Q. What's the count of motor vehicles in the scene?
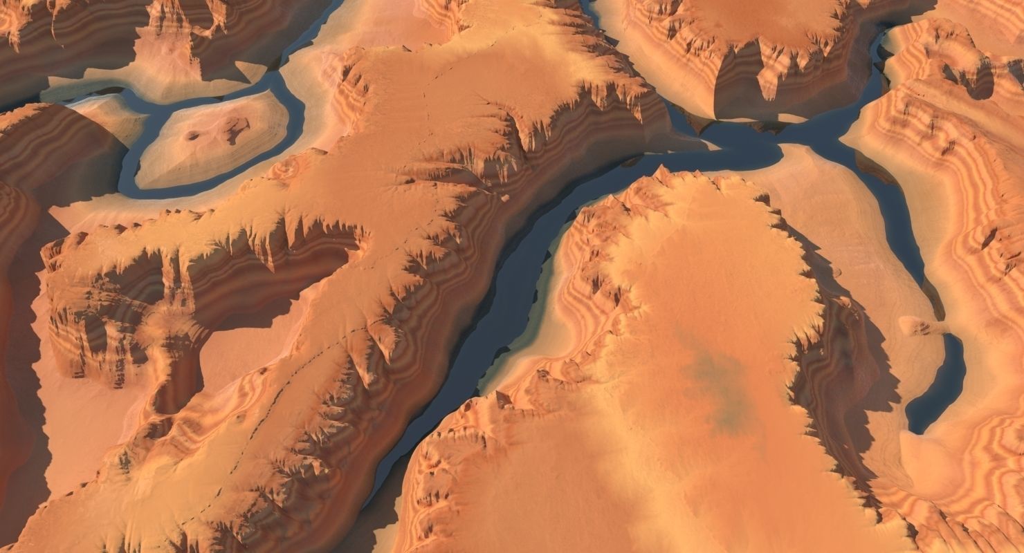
0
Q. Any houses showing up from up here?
No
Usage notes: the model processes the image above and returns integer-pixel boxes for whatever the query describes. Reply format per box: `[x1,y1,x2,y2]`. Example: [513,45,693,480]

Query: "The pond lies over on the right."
[907,335,966,433]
